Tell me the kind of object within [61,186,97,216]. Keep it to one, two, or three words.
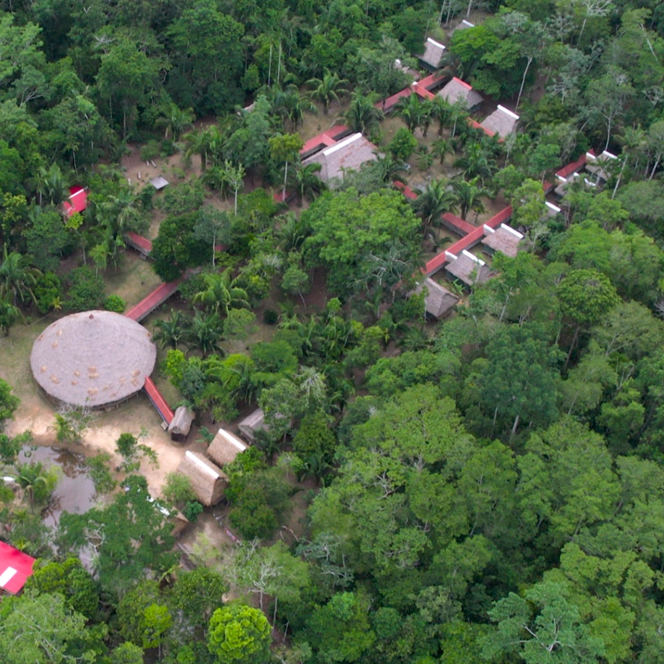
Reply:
shed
